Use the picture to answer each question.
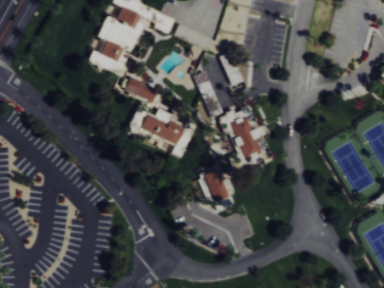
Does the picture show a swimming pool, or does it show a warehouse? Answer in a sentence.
Looking from above, you can make out a swimming pool.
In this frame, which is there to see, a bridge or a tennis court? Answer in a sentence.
The image shows a tennis court.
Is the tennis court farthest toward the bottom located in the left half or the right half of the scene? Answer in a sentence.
You can find the tennis court farthest toward the bottom on the right side of the picture.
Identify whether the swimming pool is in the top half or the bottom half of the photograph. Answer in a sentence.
The top half of the photo is where the swimming pool is.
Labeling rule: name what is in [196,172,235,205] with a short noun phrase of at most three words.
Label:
house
